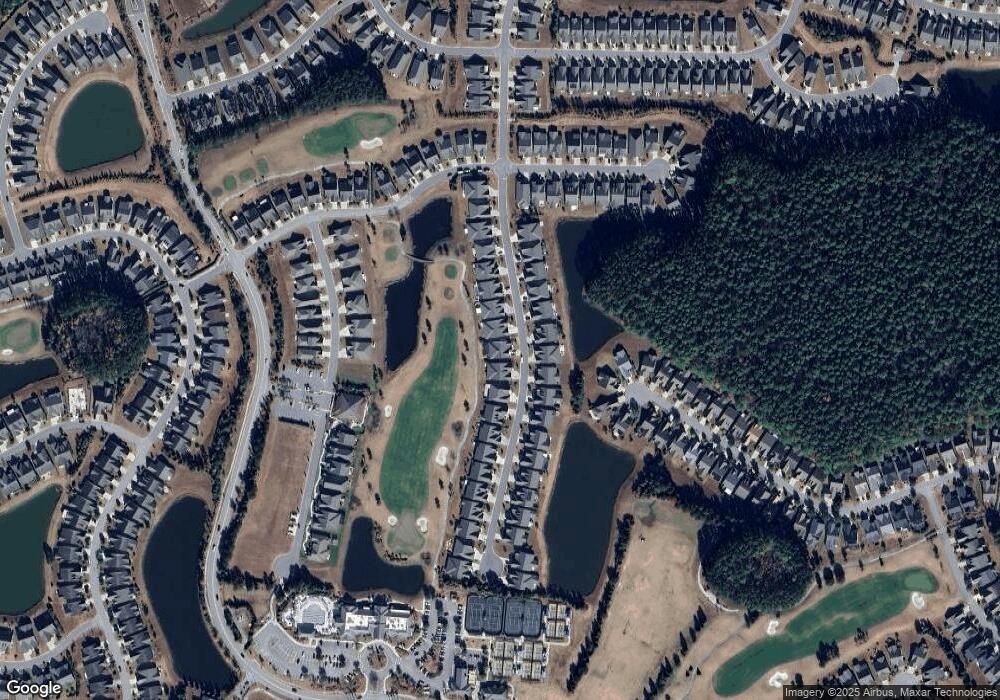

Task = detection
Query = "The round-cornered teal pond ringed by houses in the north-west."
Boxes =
[57,80,145,172]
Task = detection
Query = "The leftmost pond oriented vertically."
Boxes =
[0,486,61,615]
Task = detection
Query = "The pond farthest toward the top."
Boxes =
[185,0,270,37]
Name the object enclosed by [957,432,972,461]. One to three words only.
house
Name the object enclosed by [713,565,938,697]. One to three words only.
golf course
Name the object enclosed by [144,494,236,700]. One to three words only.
pond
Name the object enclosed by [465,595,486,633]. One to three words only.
tennis court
